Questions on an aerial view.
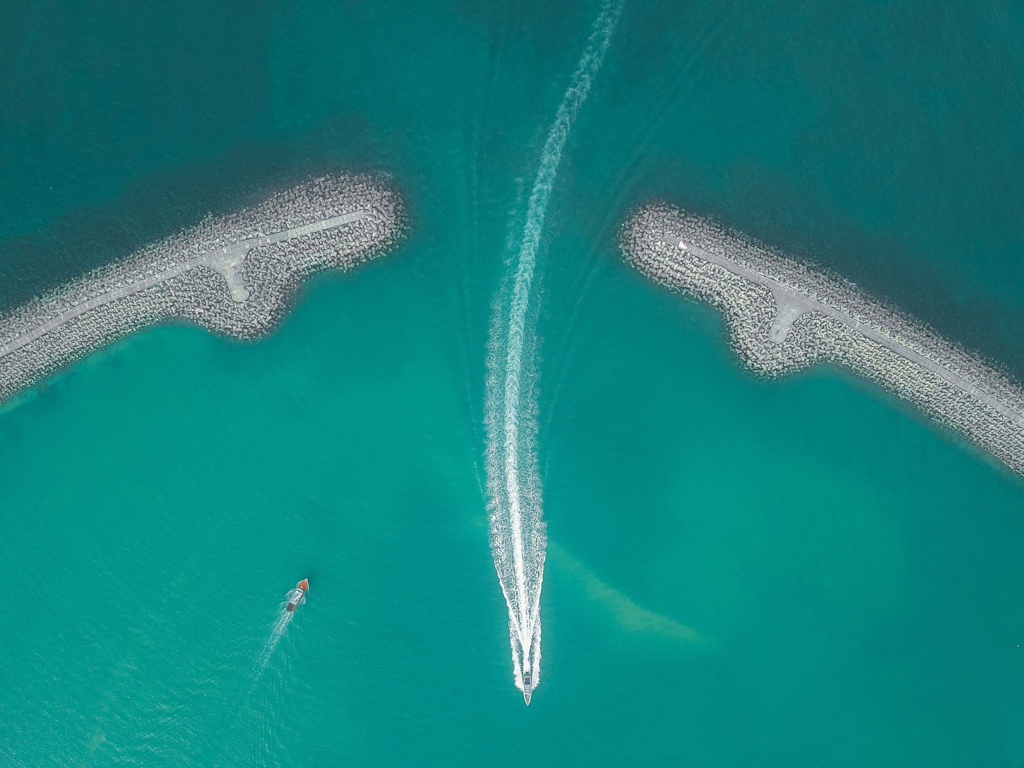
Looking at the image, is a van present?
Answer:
No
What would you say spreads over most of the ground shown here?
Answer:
water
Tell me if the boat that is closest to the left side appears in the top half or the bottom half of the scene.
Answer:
bottom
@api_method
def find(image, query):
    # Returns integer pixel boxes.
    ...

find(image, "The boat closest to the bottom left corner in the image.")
[287,578,309,613]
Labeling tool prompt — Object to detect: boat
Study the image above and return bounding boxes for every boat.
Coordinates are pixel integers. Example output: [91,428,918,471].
[287,578,309,613]
[524,673,531,706]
